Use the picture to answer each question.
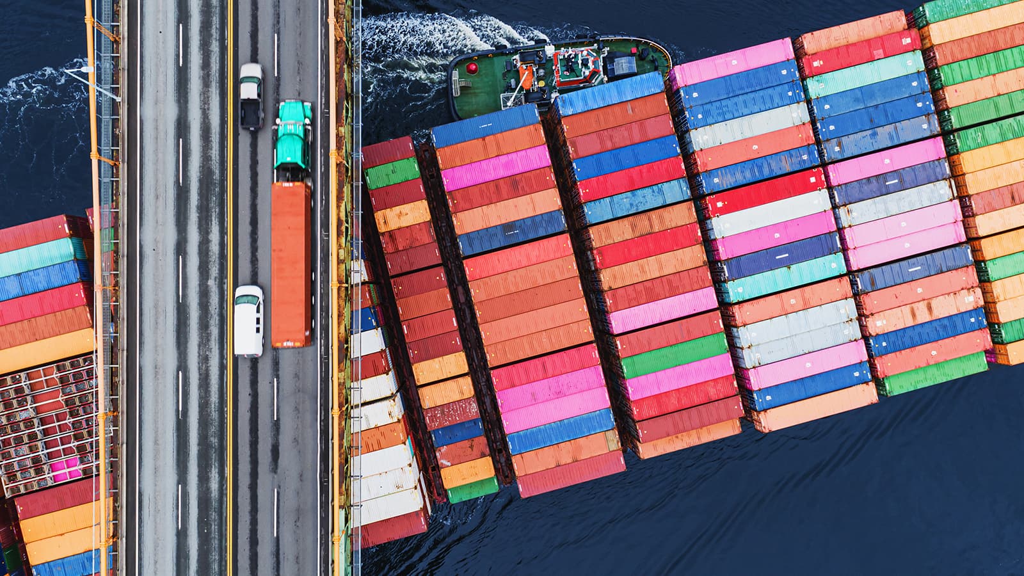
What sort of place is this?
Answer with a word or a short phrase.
port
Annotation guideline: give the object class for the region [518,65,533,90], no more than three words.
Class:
boat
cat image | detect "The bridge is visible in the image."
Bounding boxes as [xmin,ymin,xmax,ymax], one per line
[85,0,364,576]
